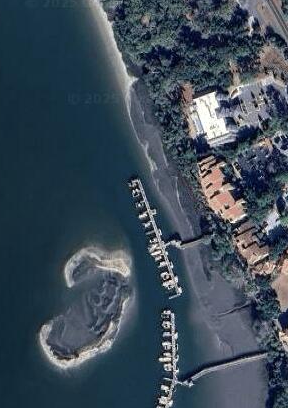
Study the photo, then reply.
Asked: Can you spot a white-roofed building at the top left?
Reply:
No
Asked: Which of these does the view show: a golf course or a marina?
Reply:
marina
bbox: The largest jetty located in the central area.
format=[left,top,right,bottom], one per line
[130,180,182,296]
